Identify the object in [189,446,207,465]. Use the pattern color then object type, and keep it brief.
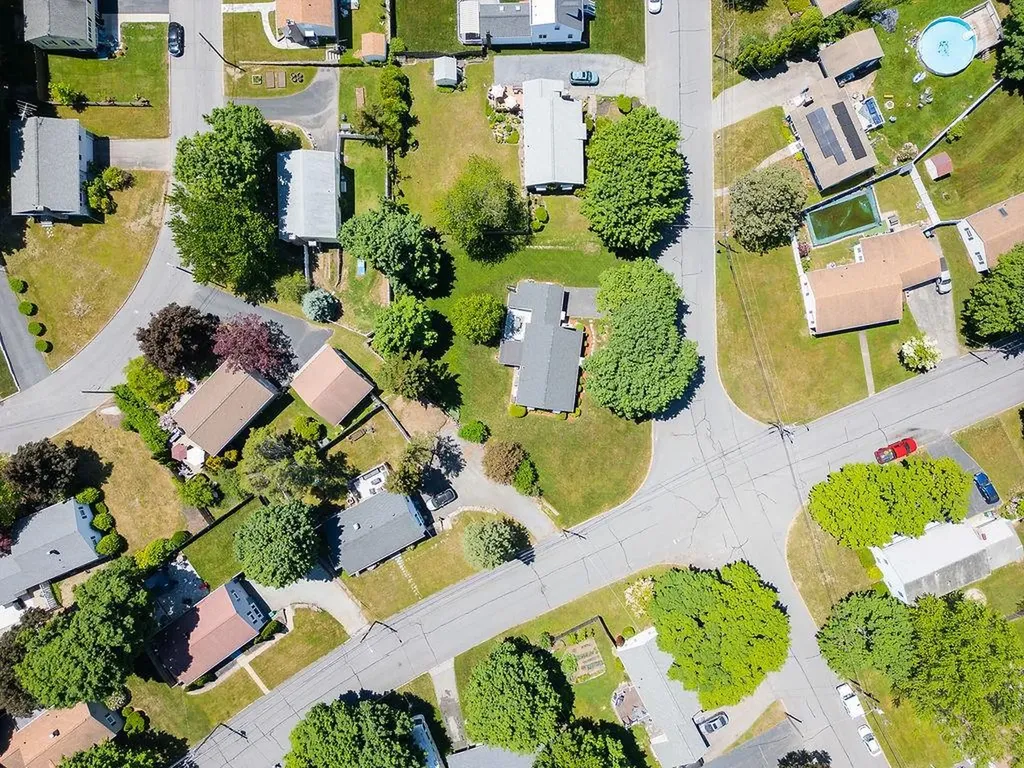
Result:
white umbrella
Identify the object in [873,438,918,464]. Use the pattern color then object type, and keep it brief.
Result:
red truck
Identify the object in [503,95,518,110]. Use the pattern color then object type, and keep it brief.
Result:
white umbrella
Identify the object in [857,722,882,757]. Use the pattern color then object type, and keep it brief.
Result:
white car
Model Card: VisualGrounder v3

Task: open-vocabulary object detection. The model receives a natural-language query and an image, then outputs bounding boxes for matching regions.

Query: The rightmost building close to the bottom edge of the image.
[617,628,710,768]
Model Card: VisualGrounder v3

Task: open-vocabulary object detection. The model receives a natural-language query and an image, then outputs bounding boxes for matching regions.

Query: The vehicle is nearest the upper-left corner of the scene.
[167,21,185,58]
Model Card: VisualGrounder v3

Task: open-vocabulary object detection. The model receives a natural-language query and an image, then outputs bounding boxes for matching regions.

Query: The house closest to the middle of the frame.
[497,280,583,411]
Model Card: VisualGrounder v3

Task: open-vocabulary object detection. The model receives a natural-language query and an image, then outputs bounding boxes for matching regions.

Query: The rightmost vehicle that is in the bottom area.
[973,472,999,504]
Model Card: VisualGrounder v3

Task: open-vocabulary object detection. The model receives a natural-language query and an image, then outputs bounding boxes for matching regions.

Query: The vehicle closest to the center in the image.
[424,487,457,511]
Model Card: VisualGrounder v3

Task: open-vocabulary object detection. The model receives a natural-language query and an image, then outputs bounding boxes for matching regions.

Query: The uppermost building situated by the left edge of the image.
[25,0,105,57]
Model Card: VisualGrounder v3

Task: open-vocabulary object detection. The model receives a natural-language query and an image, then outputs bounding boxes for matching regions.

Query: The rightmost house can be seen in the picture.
[955,194,1024,269]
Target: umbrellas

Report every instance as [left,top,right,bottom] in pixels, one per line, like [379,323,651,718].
[503,95,518,110]
[174,443,190,459]
[189,446,207,465]
[490,85,506,102]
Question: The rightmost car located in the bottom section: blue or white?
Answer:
blue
